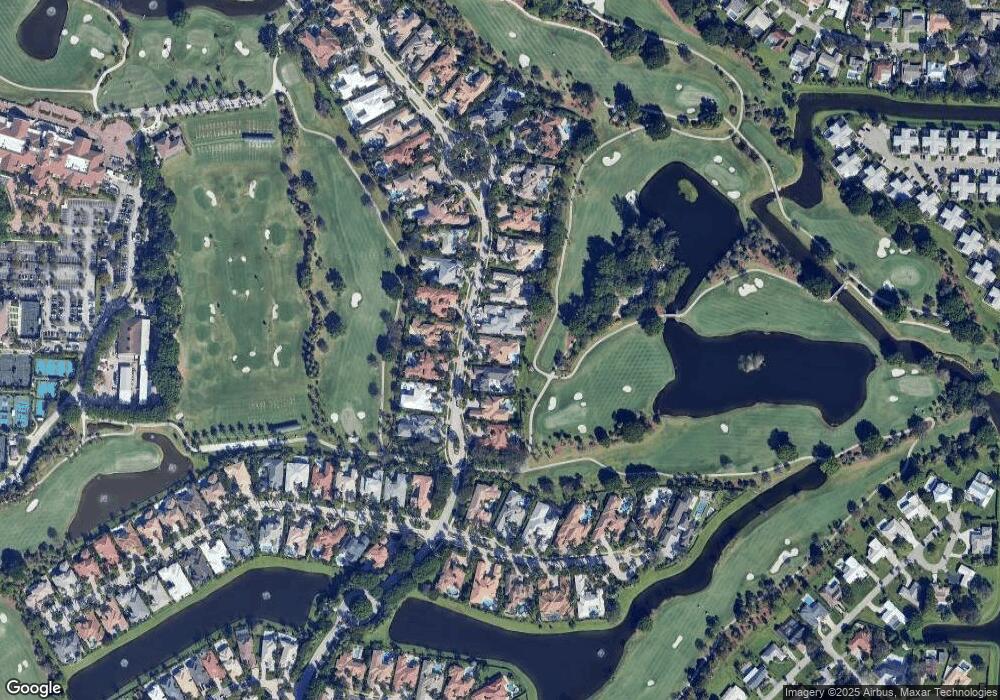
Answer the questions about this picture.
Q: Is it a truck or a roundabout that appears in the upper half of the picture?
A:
roundabout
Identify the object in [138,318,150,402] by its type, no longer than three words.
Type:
shed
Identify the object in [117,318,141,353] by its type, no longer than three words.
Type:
barn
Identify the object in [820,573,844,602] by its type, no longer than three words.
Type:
house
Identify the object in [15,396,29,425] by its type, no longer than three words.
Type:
tennis court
